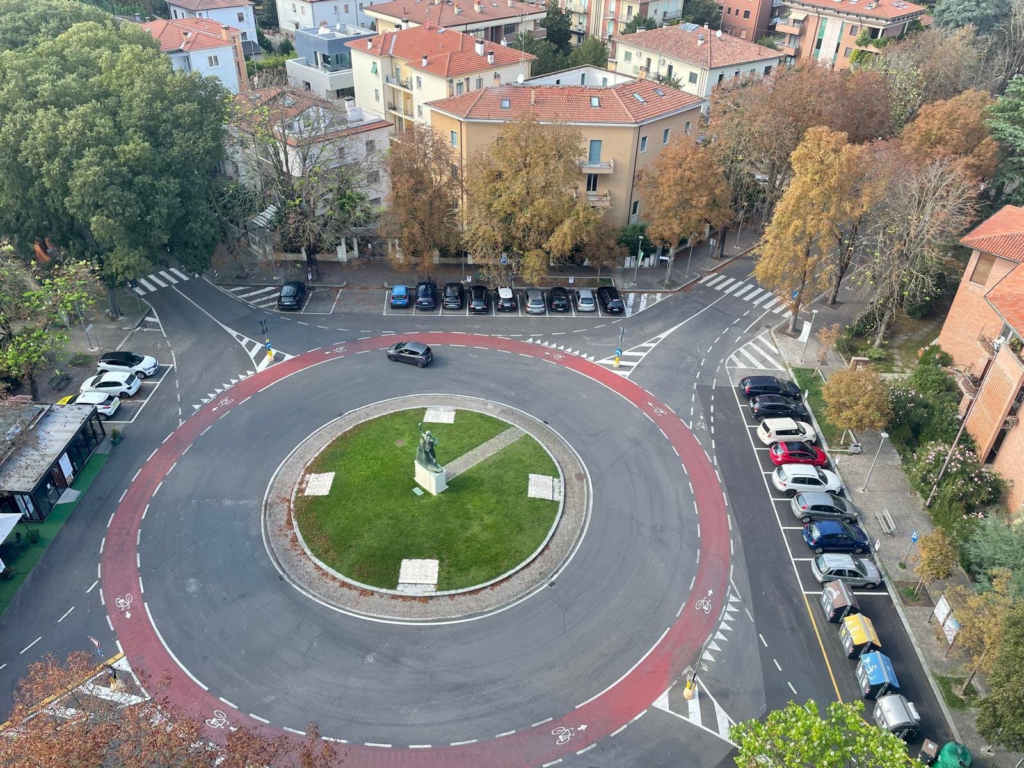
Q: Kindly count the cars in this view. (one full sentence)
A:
My tally gives 22 cars in this view.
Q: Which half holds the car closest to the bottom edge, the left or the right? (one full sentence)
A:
You can find the car closest to the bottom edge on the right side of the picture.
